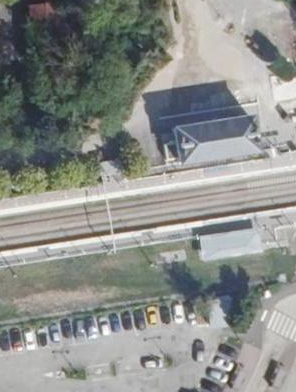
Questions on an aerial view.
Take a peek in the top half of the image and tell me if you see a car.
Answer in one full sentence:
No, no car is visible in the top half of the image.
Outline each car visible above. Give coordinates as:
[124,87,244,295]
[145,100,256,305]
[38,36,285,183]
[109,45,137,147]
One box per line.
[0,330,9,353]
[173,302,184,324]
[26,330,36,350]
[37,328,47,346]
[121,310,132,334]
[50,322,62,346]
[213,356,234,372]
[207,367,228,382]
[74,316,86,340]
[216,342,239,360]
[134,308,146,331]
[160,306,170,326]
[141,357,162,368]
[194,340,205,362]
[100,316,110,336]
[110,312,121,334]
[86,317,98,338]
[200,378,223,392]
[146,306,158,326]
[11,328,22,352]
[60,316,72,340]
